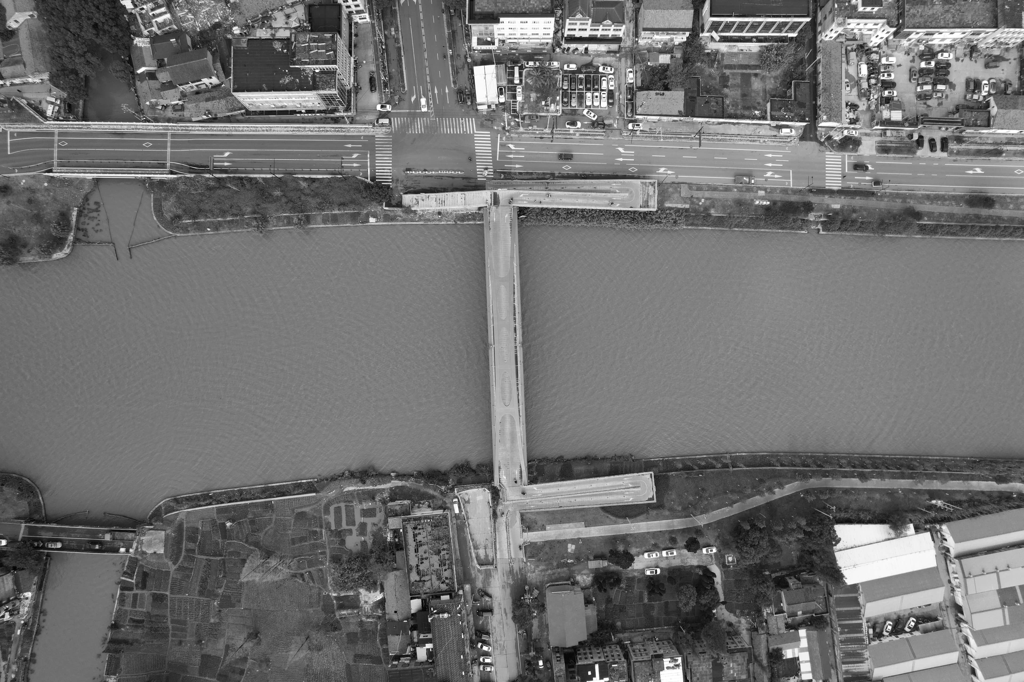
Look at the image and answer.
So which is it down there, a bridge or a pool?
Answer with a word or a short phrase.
bridge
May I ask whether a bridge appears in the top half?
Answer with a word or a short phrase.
Yes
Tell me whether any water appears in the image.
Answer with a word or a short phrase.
Yes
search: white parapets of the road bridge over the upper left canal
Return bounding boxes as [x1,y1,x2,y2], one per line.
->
[43,120,341,180]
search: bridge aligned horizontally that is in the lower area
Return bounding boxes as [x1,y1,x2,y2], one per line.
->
[0,522,140,555]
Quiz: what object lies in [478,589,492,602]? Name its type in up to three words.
vehicle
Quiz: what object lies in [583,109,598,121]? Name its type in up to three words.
vehicle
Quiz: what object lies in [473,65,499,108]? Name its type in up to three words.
shed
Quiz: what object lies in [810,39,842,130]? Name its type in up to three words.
house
